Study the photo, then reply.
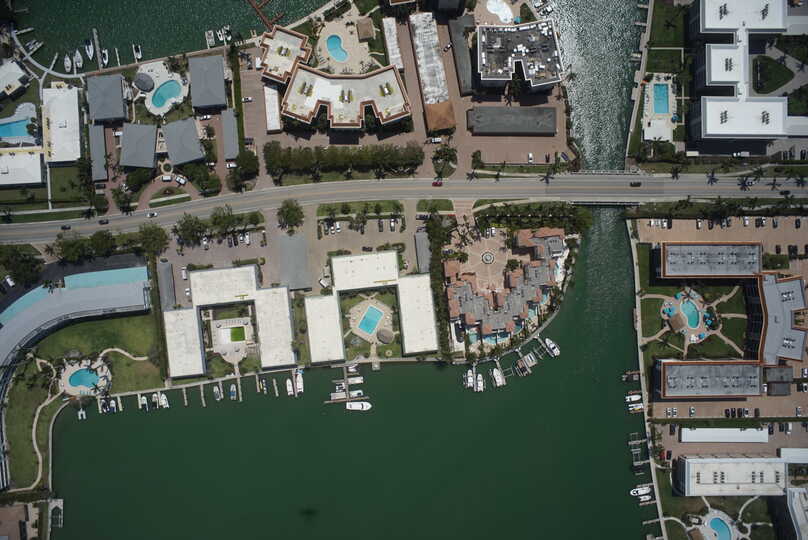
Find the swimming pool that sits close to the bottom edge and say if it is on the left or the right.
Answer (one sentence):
You can find the swimming pool that sits close to the bottom edge on the right side of the picture.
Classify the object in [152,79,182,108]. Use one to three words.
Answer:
swimming pool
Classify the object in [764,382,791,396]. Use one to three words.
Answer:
building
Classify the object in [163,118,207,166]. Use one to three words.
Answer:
building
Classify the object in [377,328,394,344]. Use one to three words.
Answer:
gazebo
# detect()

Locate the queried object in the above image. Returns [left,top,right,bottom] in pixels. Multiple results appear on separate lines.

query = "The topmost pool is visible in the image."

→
[486,0,513,23]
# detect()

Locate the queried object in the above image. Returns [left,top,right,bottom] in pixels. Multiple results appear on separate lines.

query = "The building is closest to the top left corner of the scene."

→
[0,58,34,99]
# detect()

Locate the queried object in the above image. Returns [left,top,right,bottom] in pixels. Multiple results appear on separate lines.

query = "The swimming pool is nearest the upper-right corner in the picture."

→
[653,82,669,114]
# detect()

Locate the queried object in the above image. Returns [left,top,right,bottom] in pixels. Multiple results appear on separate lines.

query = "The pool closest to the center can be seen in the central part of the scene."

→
[357,304,384,336]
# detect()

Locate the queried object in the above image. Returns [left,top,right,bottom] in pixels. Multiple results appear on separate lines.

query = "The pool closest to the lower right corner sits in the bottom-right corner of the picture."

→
[709,516,733,540]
